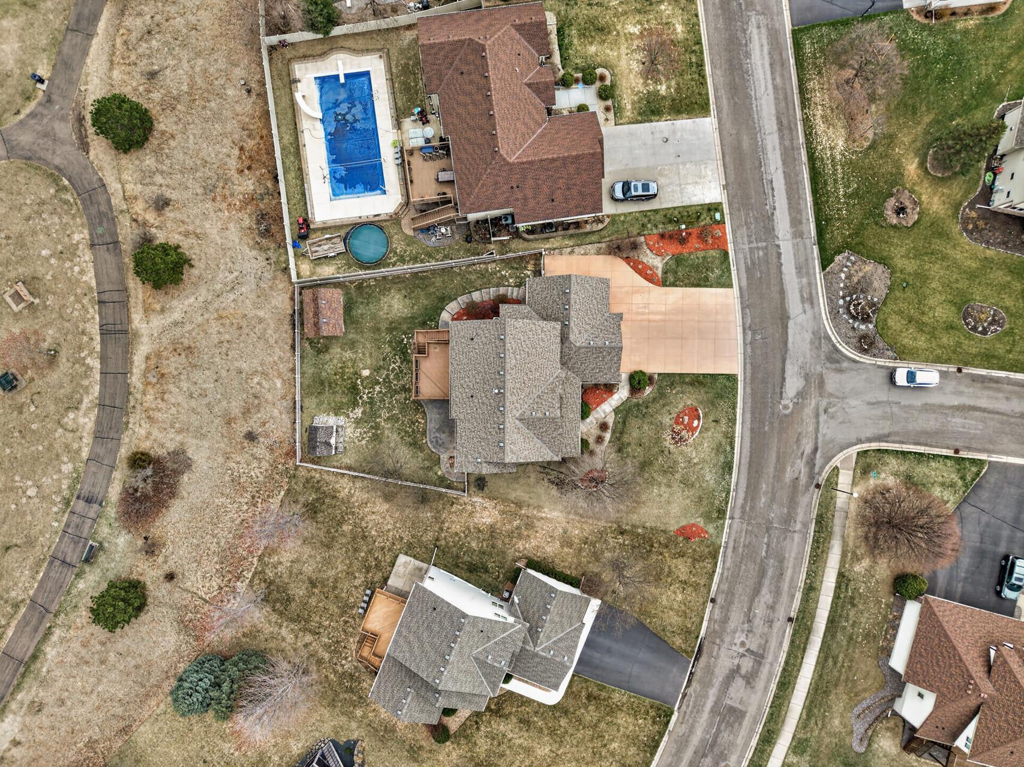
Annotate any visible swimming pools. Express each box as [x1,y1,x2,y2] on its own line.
[305,66,386,201]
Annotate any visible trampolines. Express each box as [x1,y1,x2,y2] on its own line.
[345,221,390,266]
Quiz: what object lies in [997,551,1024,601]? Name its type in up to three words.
car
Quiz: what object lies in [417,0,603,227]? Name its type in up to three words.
house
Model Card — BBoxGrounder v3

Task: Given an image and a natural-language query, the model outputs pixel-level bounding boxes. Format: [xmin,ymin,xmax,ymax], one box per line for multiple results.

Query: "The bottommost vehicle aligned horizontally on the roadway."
[887,365,940,389]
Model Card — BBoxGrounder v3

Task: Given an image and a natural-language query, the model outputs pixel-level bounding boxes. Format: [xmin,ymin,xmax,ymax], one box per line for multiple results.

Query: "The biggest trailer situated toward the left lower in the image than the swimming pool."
[302,233,345,259]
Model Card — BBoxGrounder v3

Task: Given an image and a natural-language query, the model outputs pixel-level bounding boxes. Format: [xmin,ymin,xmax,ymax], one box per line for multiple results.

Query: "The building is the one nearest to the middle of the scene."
[449,274,623,474]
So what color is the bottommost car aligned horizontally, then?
white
